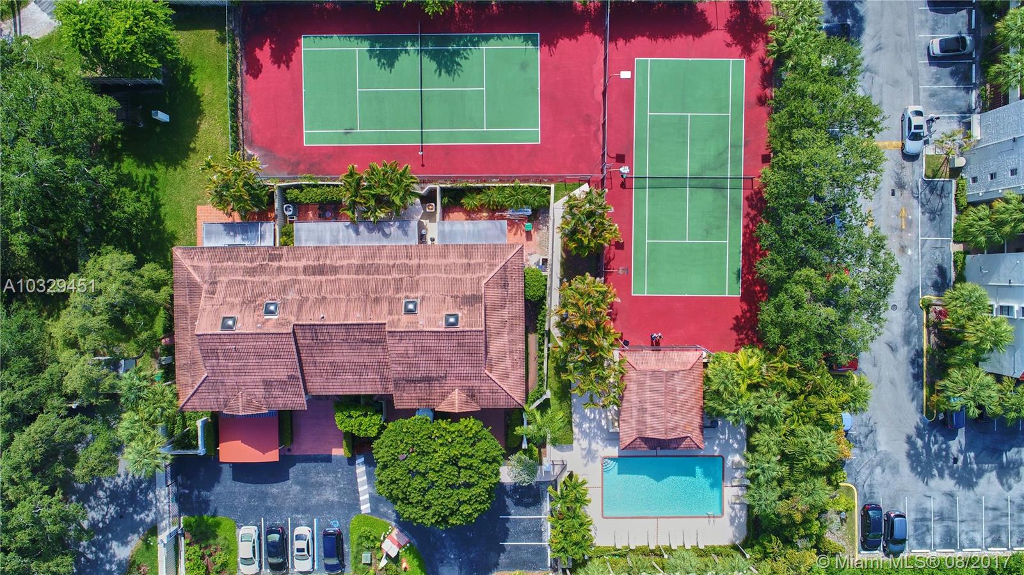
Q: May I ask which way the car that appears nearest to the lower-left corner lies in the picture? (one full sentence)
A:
In this picture, the car that appears nearest to the lower-left corner is oriented from top to bottom.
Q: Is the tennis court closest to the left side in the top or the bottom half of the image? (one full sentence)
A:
The tennis court closest to the left side sits in the top half of the picture.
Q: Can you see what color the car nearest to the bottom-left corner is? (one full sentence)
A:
In this view, the car nearest to the bottom-left corner is white.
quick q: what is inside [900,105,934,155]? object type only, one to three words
car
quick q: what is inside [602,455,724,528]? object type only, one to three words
swimming pool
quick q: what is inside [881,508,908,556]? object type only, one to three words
car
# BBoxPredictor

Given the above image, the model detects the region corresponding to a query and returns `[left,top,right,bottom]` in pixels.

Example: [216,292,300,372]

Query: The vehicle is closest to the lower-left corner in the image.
[238,524,262,573]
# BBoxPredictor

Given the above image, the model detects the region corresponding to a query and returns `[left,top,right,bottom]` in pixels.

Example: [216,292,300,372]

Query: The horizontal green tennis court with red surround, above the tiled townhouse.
[242,0,604,180]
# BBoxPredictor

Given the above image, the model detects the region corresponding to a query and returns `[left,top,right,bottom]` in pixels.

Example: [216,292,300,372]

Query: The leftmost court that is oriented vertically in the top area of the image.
[601,0,773,345]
